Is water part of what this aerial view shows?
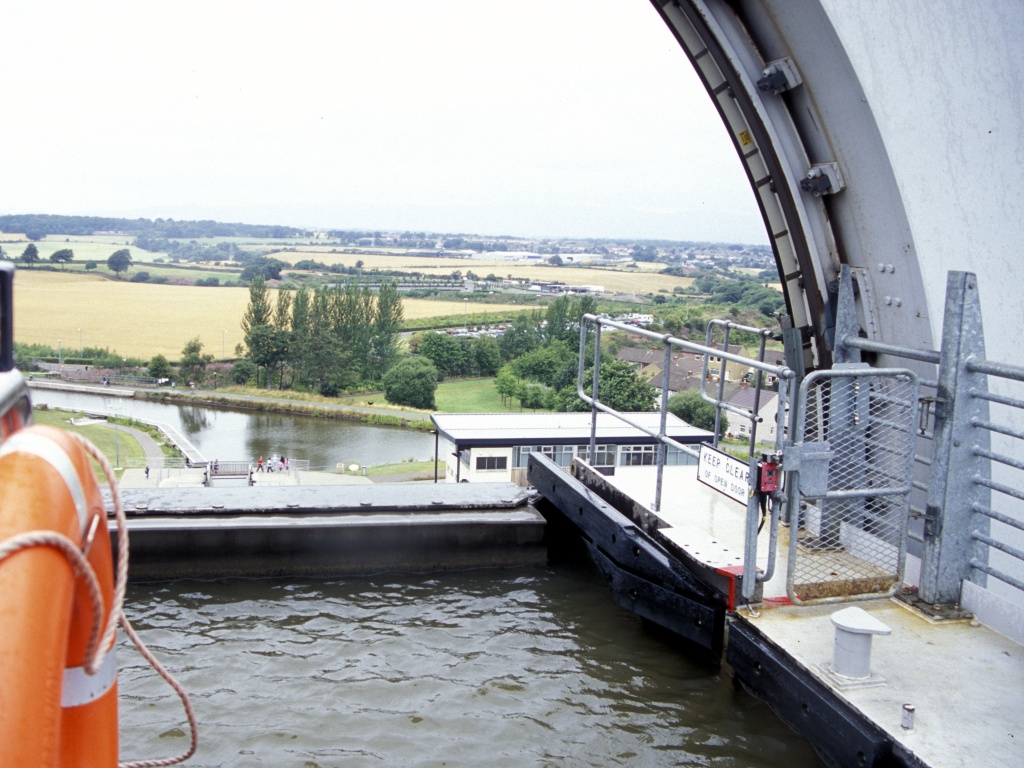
Yes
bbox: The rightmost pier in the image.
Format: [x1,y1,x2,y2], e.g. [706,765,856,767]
[151,419,210,465]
